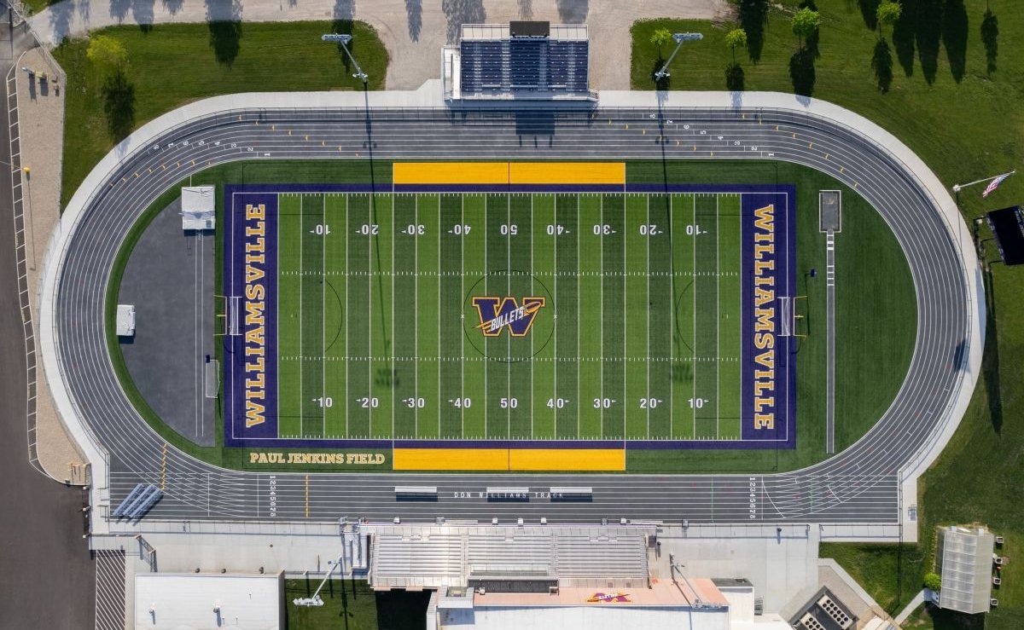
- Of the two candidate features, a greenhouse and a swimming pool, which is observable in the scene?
greenhouse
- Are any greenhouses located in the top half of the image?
No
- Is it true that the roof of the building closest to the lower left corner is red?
No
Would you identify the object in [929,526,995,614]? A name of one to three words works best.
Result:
greenhouse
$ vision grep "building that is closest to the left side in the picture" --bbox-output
[134,567,288,630]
